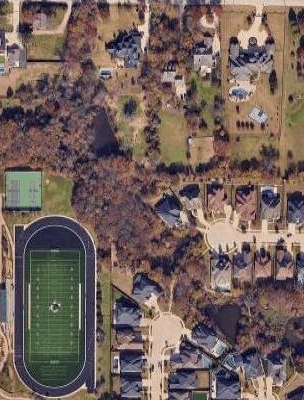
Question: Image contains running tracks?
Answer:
Yes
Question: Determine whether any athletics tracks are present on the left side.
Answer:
Yes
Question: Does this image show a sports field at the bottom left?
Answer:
Yes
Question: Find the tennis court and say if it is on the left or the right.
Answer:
left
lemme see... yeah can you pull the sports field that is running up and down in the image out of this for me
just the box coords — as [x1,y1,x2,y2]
[24,251,85,386]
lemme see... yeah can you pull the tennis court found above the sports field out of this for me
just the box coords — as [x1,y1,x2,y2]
[5,172,42,211]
